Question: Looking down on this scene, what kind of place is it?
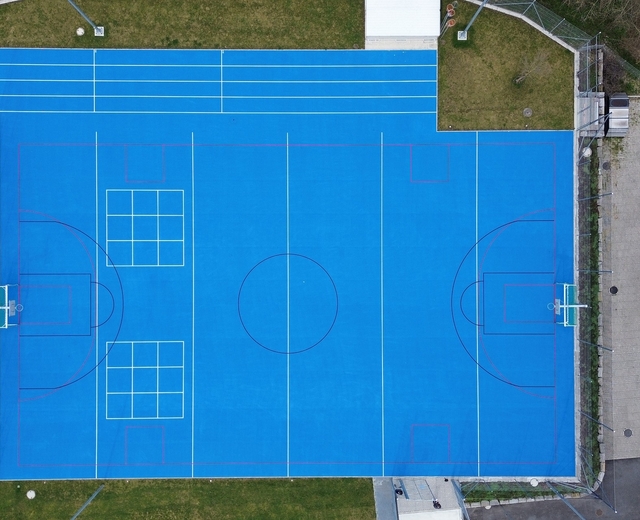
sports ground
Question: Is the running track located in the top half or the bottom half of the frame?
top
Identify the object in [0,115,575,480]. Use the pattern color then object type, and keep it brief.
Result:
blue sports court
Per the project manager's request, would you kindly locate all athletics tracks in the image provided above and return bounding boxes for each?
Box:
[0,49,438,115]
